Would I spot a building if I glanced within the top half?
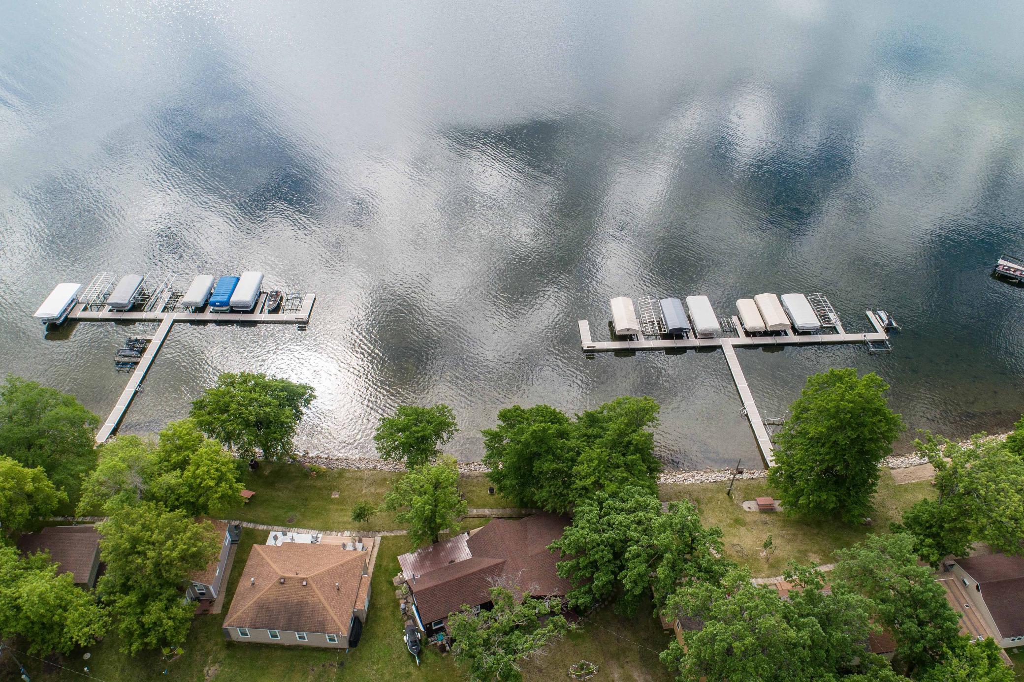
No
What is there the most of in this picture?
water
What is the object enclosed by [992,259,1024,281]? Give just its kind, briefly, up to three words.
boat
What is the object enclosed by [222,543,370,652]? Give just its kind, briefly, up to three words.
house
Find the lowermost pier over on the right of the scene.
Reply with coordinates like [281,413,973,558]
[578,308,889,469]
